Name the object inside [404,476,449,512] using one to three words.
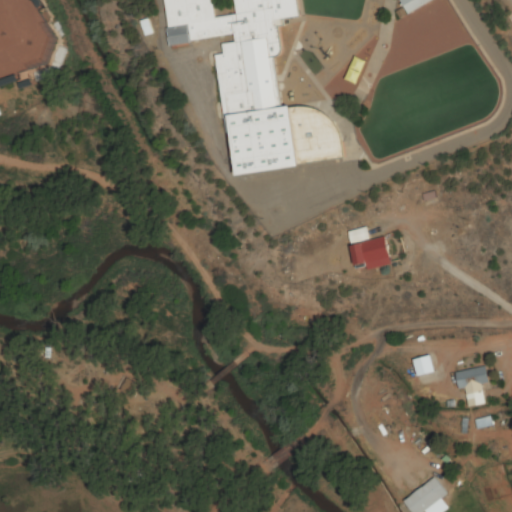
barn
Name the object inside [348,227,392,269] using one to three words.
house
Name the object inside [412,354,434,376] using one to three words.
house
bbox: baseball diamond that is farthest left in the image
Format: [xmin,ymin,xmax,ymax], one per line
[0,0,56,79]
